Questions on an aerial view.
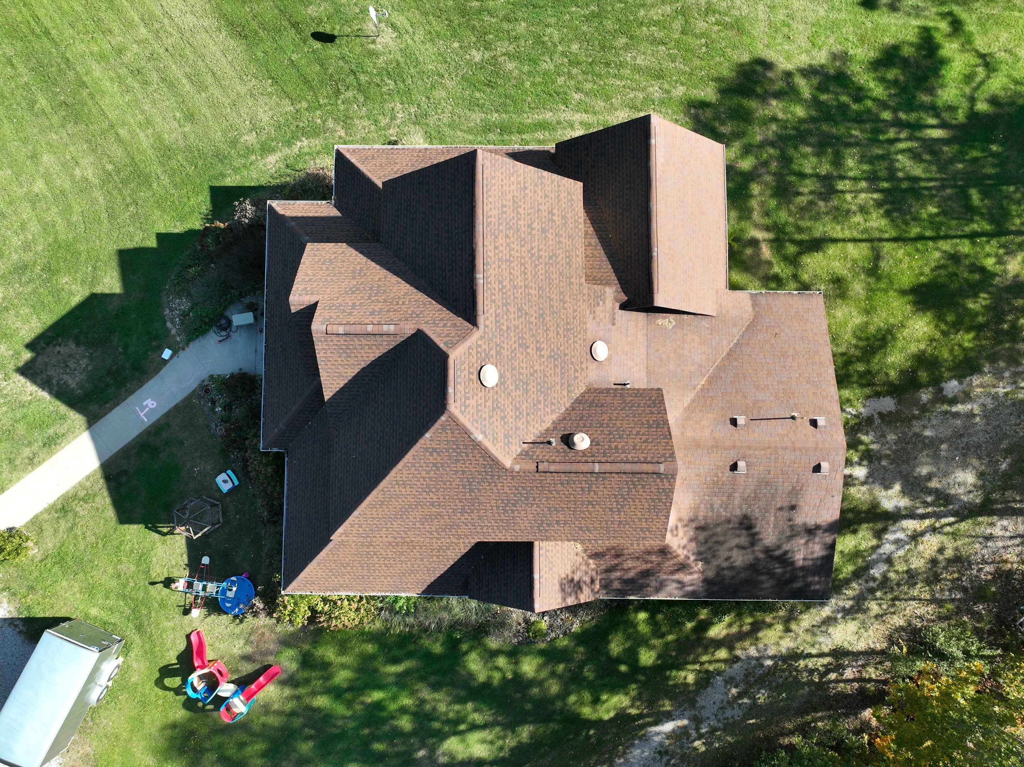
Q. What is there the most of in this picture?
grass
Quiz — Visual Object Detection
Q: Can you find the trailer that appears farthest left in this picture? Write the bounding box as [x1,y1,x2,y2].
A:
[0,610,129,767]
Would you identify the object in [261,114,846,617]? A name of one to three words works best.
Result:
house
